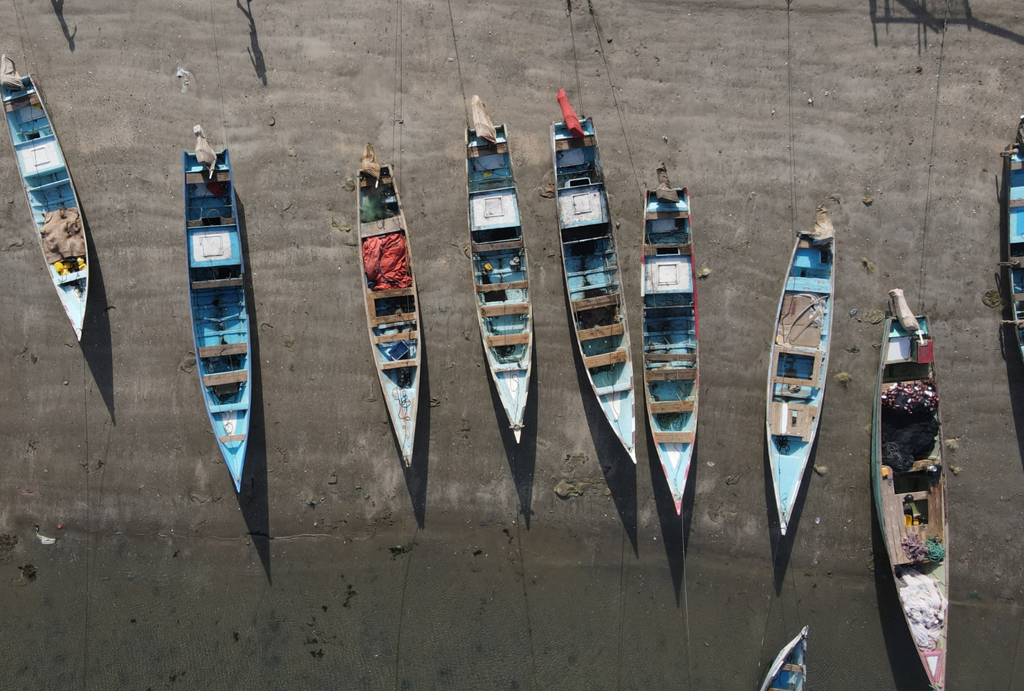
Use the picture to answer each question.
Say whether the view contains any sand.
Yes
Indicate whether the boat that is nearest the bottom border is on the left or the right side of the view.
right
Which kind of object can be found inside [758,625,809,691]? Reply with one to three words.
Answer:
boat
